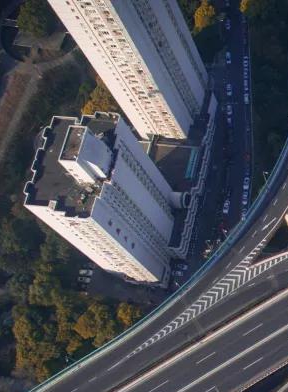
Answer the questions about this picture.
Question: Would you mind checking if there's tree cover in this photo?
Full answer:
Yes, there's tree cover in this view.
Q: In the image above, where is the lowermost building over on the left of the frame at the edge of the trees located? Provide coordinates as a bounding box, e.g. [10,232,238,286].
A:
[24,112,176,278]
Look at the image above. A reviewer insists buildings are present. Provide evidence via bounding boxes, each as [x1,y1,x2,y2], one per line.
[24,112,176,278]
[43,0,213,143]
